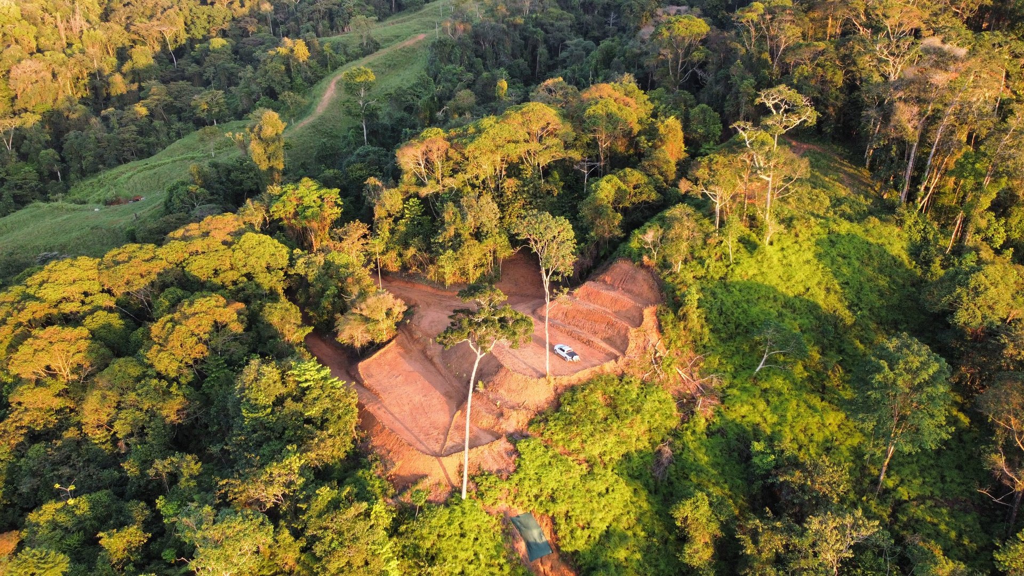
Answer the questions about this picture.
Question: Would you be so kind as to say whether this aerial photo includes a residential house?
No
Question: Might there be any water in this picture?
No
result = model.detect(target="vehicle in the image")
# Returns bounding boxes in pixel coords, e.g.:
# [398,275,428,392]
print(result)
[554,344,581,360]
